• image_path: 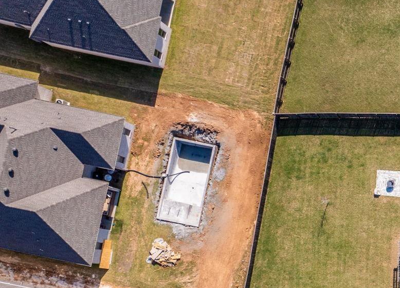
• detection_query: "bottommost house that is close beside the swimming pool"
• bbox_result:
[0,72,137,267]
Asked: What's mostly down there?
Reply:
grass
